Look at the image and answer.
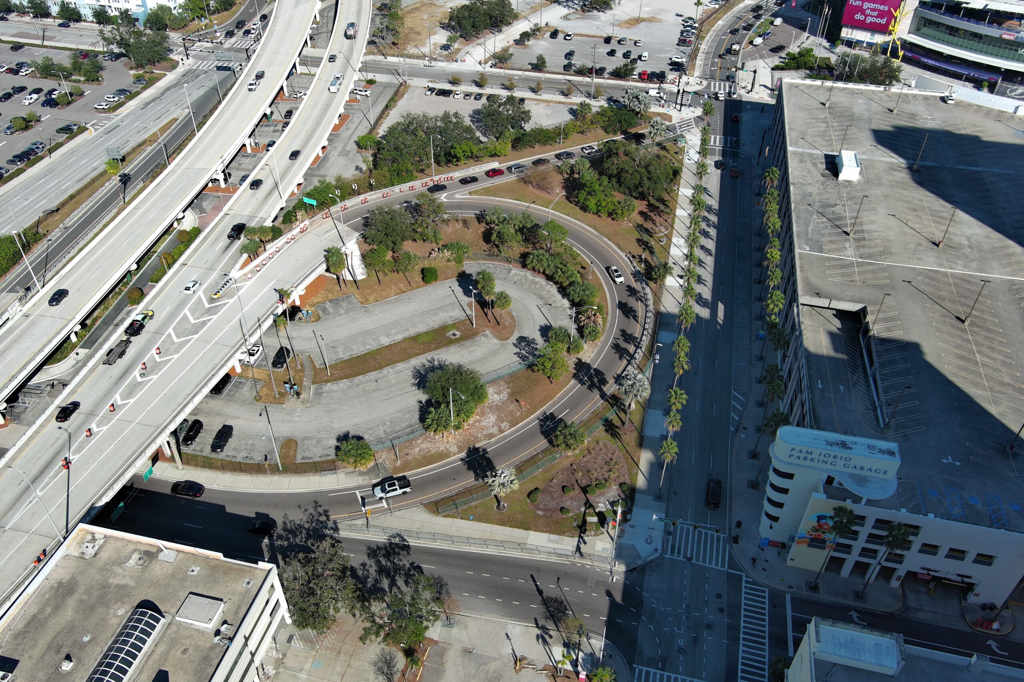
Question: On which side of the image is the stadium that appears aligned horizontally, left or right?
right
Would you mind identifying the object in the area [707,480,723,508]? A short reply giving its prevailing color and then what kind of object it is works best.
black car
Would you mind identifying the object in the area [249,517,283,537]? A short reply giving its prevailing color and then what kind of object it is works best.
black car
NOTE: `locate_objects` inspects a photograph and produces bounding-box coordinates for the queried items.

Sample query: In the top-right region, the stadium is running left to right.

[822,0,1024,103]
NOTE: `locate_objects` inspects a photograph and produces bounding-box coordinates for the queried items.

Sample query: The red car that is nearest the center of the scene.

[485,166,505,179]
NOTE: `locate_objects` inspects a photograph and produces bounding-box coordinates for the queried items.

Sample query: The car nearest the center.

[610,266,624,283]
